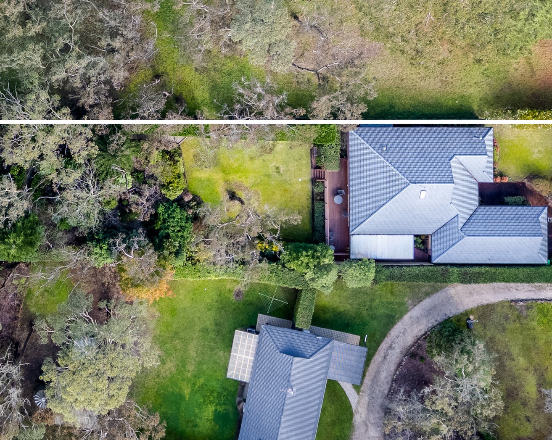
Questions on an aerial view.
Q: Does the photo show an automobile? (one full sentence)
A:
No, this view has no automobile in it.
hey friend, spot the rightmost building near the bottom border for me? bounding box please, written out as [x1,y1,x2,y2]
[226,323,368,440]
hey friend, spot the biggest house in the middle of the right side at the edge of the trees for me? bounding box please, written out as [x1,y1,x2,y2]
[315,127,548,264]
